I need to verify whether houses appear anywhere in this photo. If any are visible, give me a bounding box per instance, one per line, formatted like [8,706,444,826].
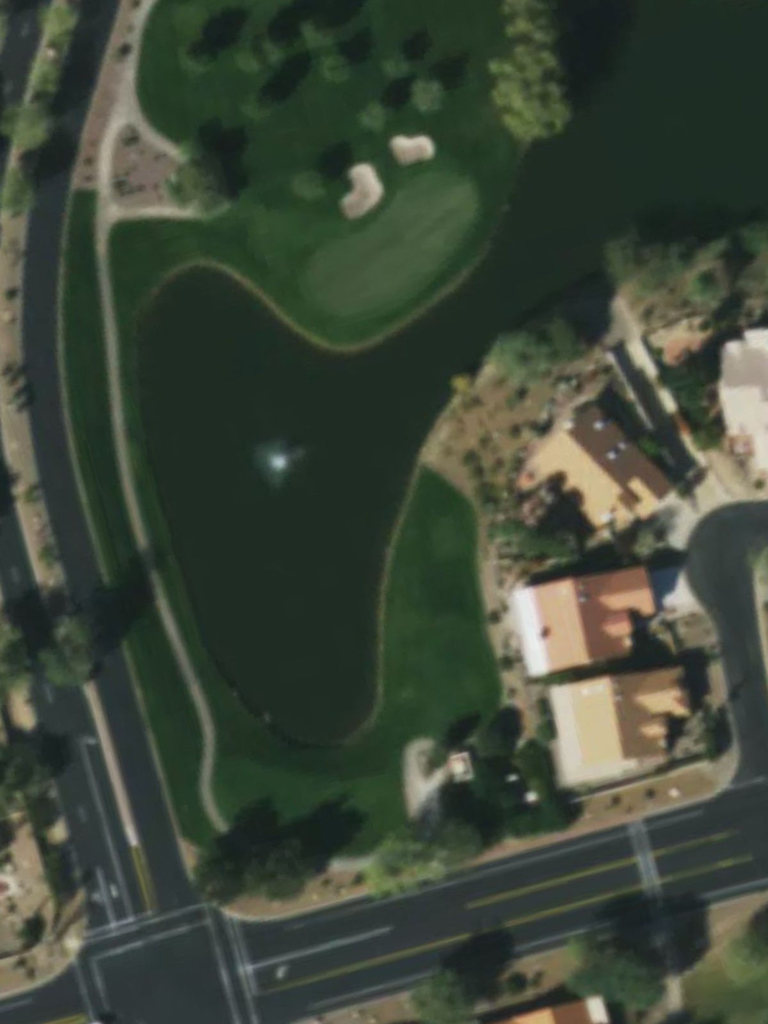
[550,668,692,793]
[526,401,674,532]
[724,330,768,466]
[514,564,657,673]
[508,1000,608,1024]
